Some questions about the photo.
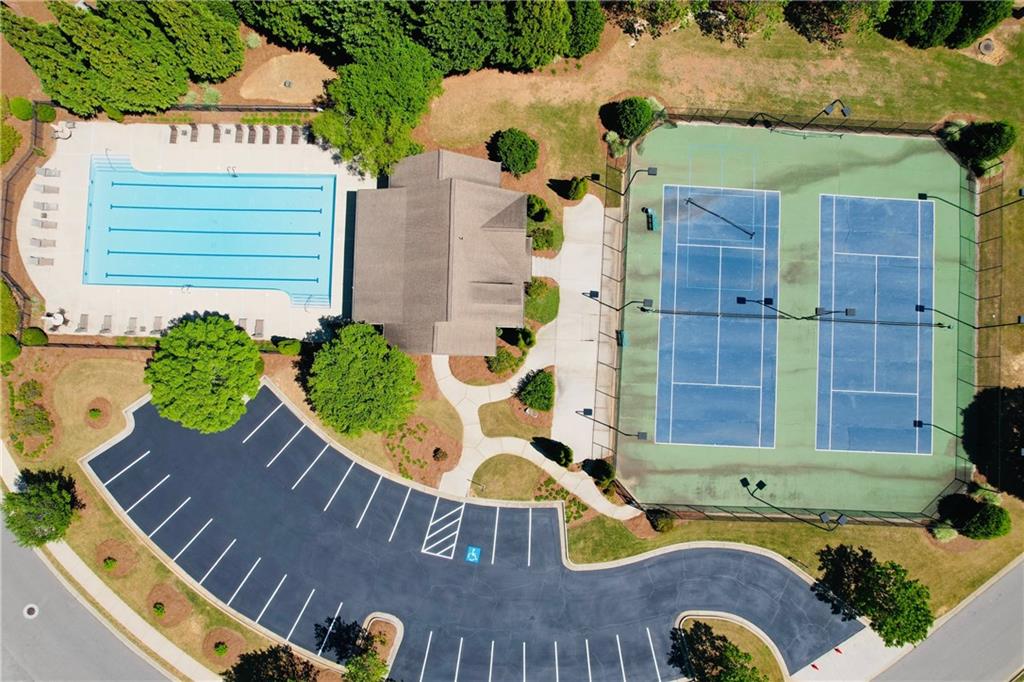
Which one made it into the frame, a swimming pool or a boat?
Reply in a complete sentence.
Of the two, only a swimming pool appears.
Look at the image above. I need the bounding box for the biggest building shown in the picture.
[350,151,533,357]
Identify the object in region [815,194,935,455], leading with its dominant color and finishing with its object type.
blue tennis court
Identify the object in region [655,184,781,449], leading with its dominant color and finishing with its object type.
blue tennis court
